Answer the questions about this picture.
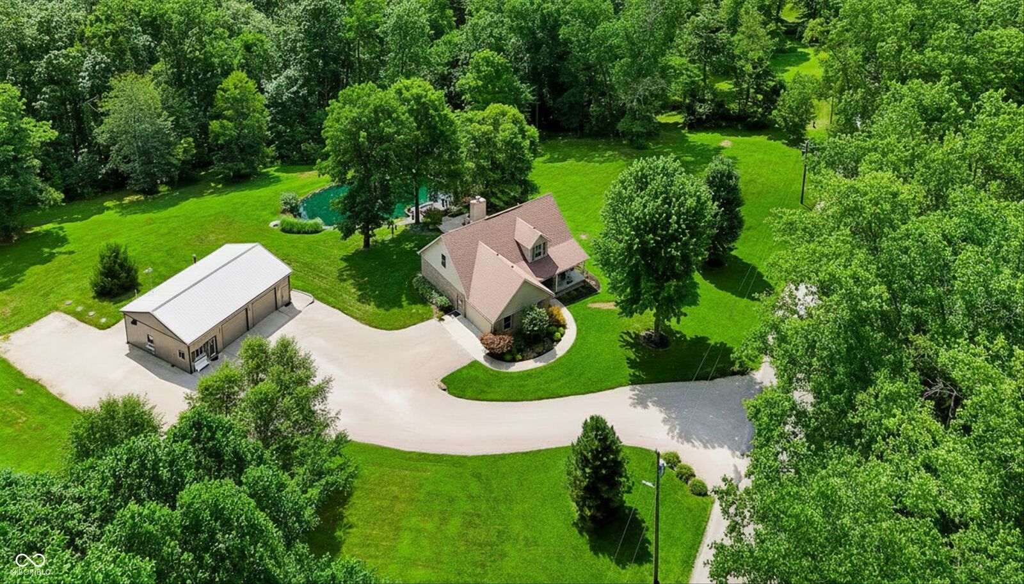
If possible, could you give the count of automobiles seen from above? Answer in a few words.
none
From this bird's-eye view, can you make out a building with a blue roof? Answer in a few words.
No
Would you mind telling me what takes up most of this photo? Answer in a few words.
trees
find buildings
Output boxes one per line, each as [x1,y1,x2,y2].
[119,242,293,374]
[416,193,591,336]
